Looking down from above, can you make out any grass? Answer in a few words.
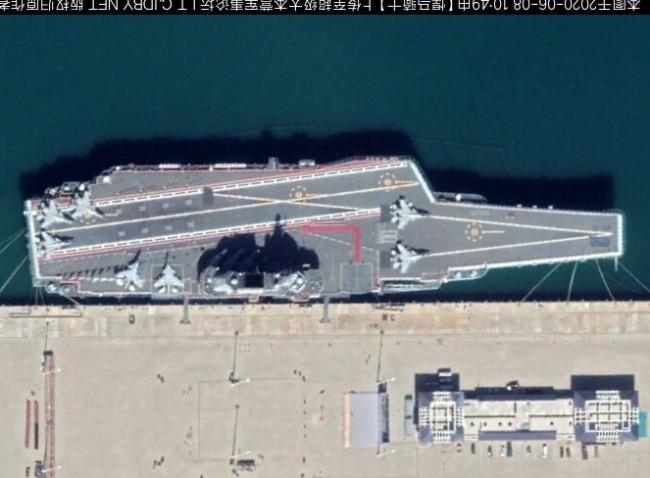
No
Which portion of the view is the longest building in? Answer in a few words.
bottom right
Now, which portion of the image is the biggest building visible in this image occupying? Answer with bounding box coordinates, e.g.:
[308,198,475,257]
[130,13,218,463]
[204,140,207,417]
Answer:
[412,373,646,443]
